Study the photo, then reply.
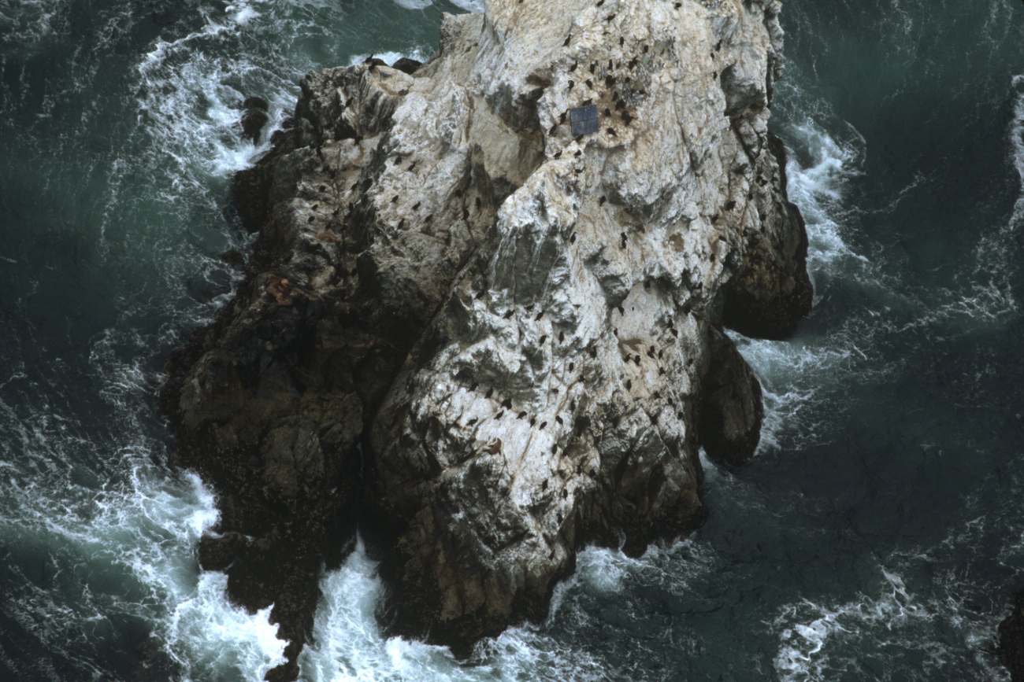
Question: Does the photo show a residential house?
No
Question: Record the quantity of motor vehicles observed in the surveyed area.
none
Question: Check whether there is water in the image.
Yes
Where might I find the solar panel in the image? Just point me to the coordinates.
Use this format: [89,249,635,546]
[570,103,601,142]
